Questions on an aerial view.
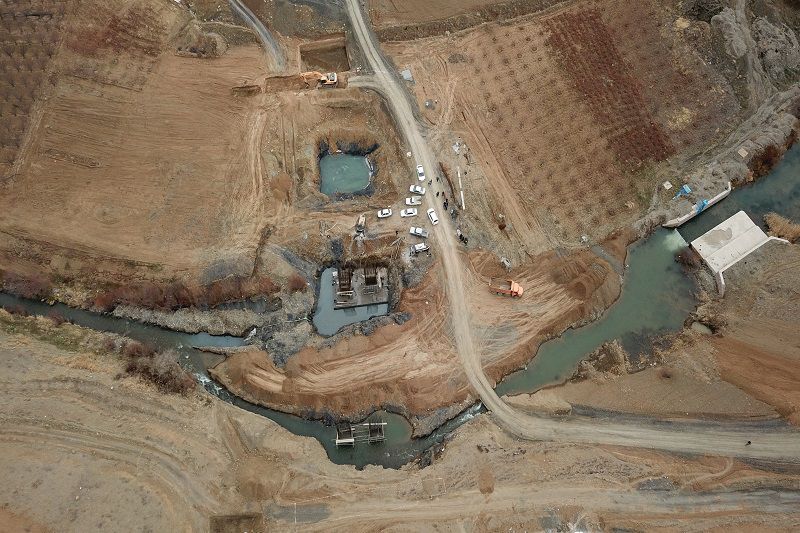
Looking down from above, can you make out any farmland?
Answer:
Yes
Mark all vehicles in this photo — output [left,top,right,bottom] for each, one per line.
[377,209,392,217]
[409,185,424,195]
[301,69,339,88]
[491,277,526,297]
[405,196,423,205]
[410,227,428,238]
[411,244,428,254]
[401,208,416,216]
[417,166,425,179]
[428,210,438,223]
